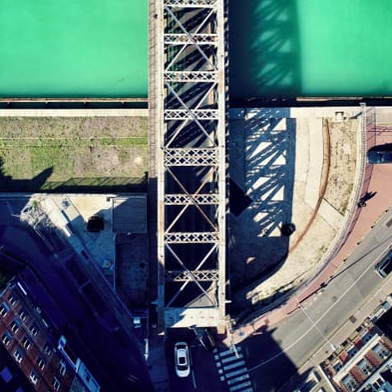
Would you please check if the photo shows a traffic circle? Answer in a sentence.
No, the scene contains no traffic circle.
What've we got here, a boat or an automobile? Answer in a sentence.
Looking from above, you can make out an automobile.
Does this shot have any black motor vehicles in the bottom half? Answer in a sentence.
Yes, in the bottom half there is a black motor vehicle.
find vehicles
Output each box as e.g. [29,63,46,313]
[191,327,217,356]
[174,343,190,380]
[368,148,392,164]
[374,245,392,277]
